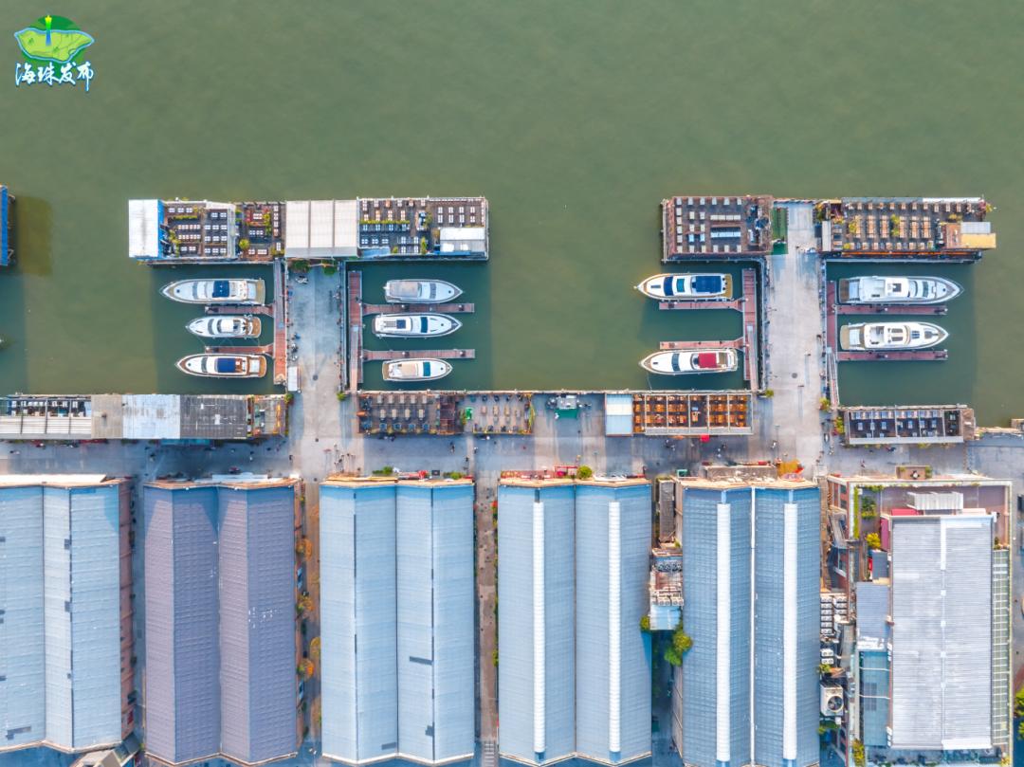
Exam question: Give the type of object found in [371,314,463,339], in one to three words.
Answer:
boat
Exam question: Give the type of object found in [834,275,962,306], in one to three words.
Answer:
boat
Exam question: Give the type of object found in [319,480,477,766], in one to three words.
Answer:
warehouse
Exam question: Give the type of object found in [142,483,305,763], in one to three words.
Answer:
warehouse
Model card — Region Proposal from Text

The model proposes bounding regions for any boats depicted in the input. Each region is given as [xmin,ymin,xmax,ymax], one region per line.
[834,275,962,306]
[371,314,463,339]
[640,347,739,375]
[176,352,271,378]
[163,278,269,305]
[186,314,265,339]
[636,273,734,302]
[381,358,453,383]
[836,322,950,351]
[381,279,463,306]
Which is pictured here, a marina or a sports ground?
marina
